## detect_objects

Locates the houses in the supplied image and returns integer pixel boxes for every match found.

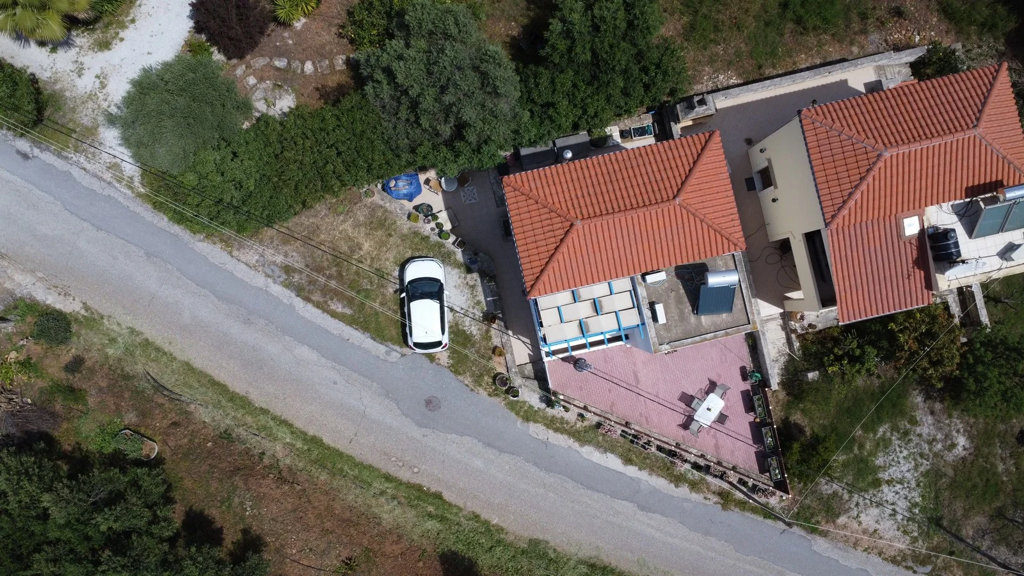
[746,59,1024,326]
[499,127,759,361]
